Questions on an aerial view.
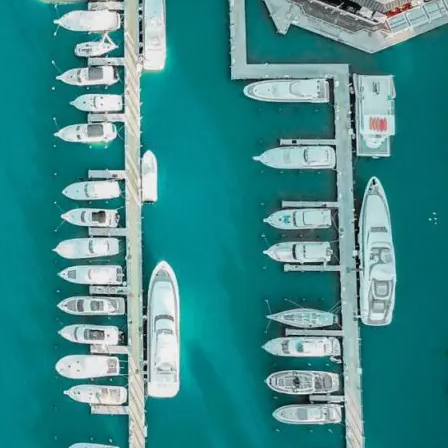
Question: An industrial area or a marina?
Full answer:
What you see here is a marina.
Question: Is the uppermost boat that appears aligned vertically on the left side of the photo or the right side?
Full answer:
The uppermost boat that appears aligned vertically is on the left side of the image.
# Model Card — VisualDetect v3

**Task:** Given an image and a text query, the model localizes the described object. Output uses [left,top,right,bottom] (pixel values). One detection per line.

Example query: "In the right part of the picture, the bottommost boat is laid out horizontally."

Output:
[273,402,350,427]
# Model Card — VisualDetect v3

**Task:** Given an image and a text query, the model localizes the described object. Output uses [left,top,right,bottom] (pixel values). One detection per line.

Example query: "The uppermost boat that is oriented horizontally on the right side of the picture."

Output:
[244,78,336,104]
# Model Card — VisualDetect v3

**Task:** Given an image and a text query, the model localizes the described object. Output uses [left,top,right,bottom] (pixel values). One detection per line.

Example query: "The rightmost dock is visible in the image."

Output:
[229,0,364,448]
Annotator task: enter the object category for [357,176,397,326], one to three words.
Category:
boat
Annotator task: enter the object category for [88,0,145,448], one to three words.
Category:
pier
